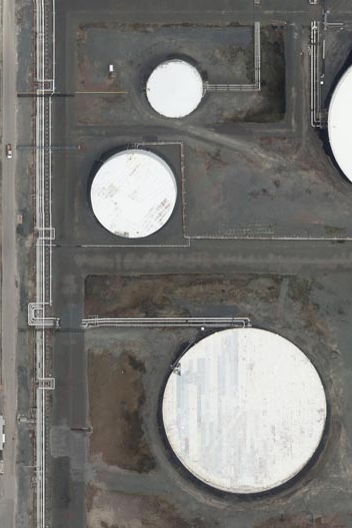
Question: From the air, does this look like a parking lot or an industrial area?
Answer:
industrial area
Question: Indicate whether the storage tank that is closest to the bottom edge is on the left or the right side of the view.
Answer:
right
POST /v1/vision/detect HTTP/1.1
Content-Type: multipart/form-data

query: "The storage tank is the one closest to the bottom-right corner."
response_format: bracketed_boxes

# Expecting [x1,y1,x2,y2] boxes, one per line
[157,326,330,498]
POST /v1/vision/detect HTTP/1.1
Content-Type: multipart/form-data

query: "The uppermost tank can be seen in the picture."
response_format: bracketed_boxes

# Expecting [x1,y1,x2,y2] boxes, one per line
[144,57,208,120]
